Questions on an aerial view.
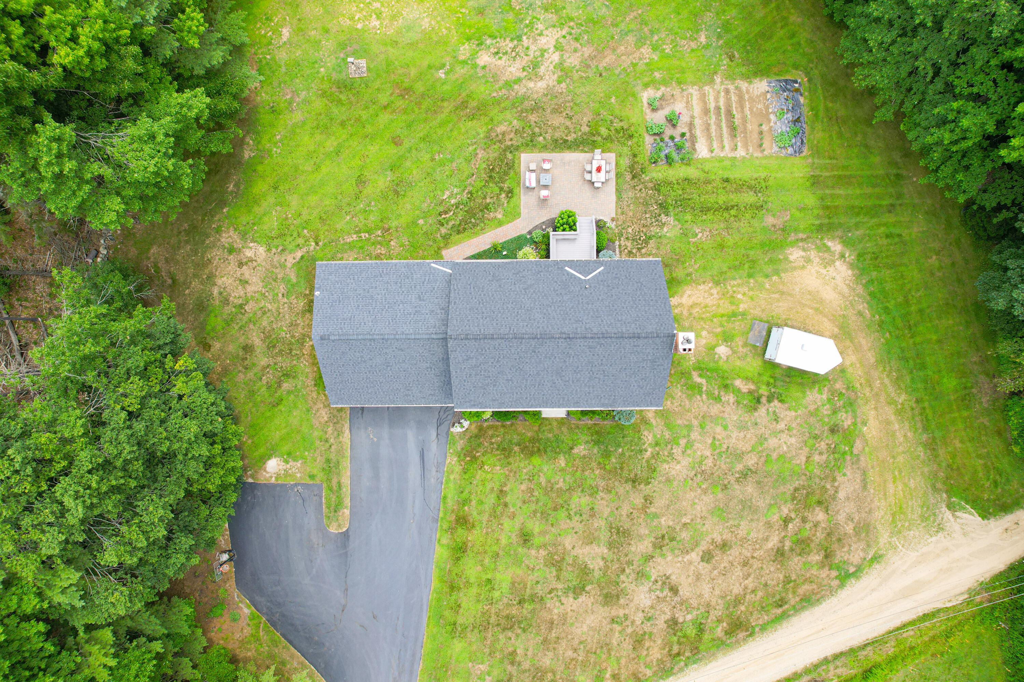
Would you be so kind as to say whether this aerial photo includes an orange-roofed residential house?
No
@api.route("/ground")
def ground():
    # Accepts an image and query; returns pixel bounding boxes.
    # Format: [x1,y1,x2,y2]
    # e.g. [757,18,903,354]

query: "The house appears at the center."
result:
[311,257,694,411]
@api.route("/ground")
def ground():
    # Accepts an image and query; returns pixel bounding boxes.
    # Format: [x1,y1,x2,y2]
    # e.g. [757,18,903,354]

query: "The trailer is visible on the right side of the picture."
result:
[763,326,844,375]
